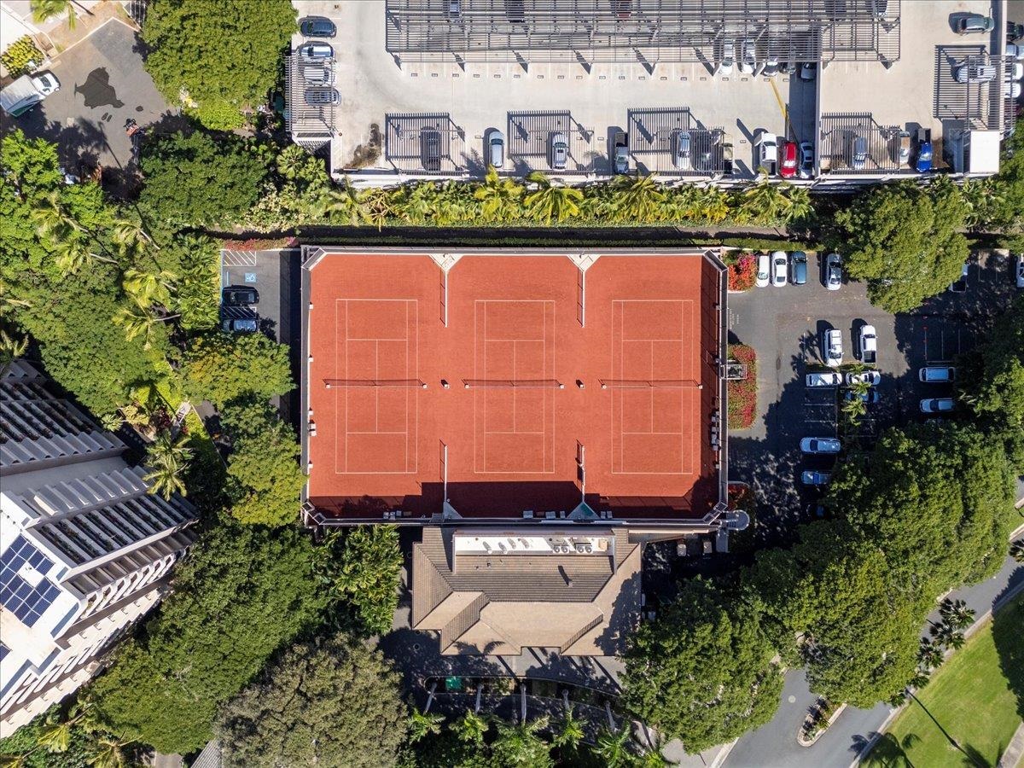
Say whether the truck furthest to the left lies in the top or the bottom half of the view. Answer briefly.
top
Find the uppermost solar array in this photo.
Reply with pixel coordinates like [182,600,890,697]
[0,534,59,628]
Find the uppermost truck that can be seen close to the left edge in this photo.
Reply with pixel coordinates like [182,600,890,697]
[0,73,59,115]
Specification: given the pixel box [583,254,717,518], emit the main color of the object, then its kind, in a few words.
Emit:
red tennis court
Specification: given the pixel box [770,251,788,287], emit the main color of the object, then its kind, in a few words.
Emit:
white car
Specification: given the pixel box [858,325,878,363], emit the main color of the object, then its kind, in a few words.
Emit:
white vehicle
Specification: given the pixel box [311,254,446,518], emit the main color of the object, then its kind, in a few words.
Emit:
red tennis court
